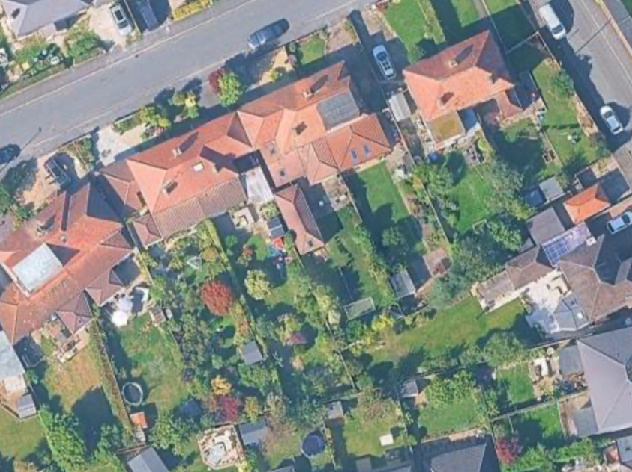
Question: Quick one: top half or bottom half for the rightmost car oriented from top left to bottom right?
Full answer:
Seen from above, the rightmost car oriented from top left to bottom right lies in the top half of the view.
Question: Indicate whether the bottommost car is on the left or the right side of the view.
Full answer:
You can find the bottommost car on the right side of the picture.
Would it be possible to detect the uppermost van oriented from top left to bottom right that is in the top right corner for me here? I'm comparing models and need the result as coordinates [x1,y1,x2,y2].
[536,0,567,39]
